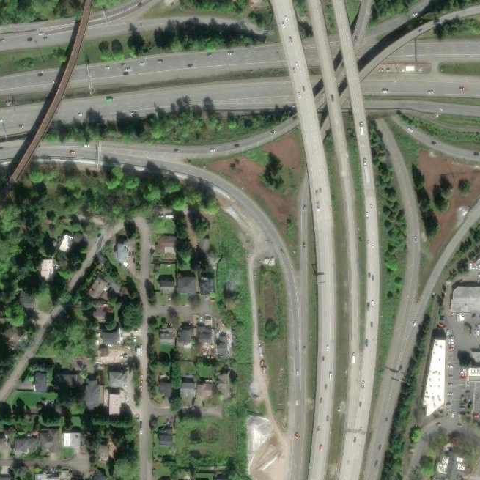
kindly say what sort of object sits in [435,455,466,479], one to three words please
building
